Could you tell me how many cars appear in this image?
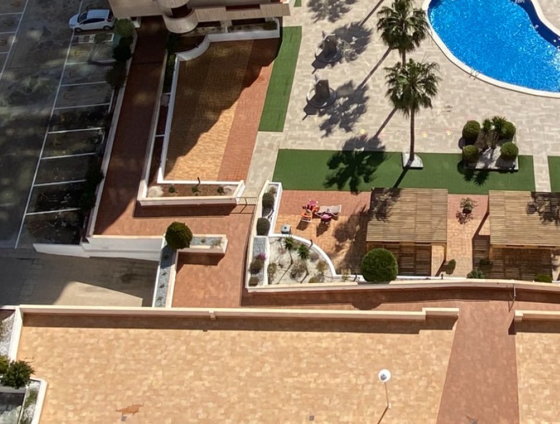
1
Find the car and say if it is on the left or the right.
left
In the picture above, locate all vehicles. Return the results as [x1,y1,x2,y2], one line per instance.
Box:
[64,10,112,35]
